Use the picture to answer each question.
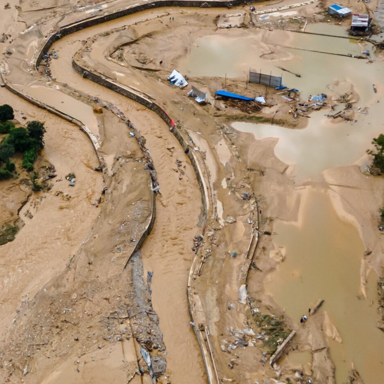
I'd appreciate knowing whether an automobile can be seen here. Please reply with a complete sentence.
No, the frame has no automobile in it.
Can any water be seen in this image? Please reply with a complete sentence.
Yes, some water is visible.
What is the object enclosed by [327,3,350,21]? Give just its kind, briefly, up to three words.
shed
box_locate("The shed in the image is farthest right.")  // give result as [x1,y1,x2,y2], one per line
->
[349,11,370,32]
